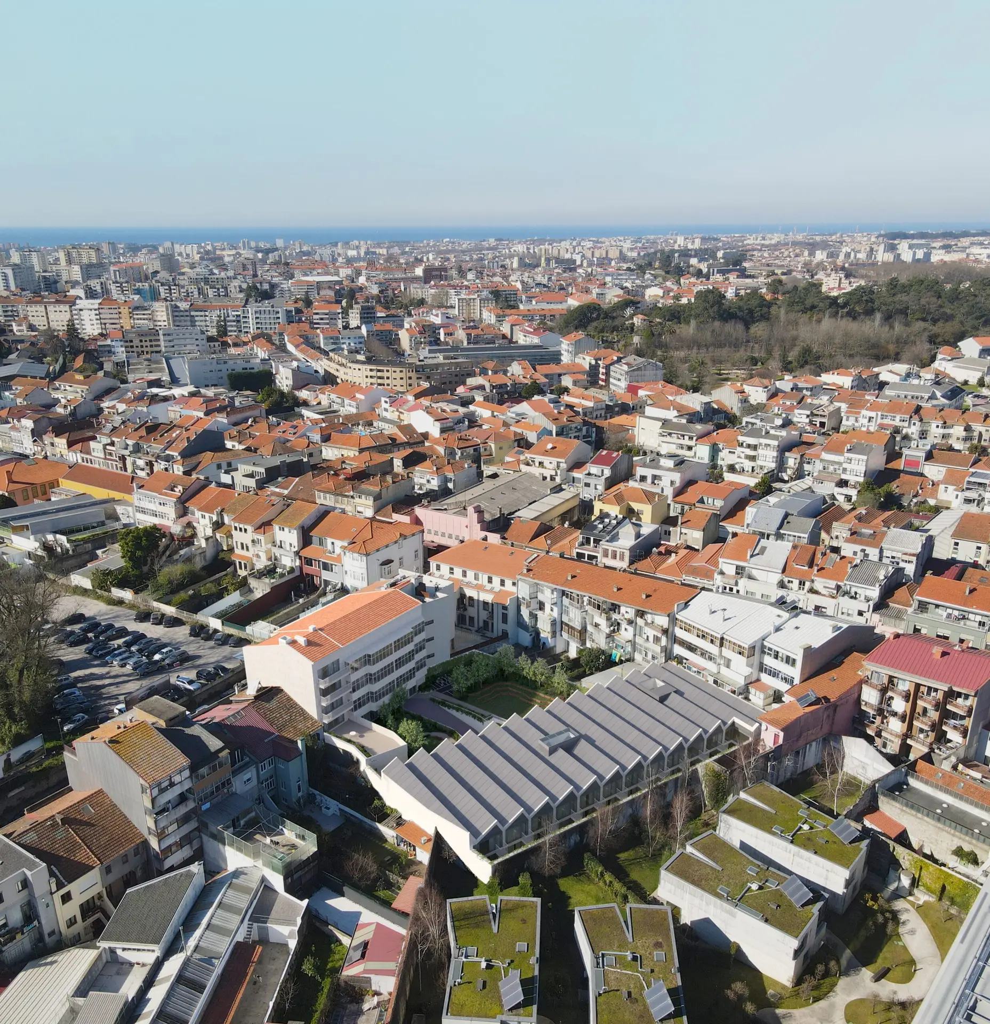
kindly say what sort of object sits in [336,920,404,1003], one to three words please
shed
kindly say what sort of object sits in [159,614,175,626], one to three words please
vehicle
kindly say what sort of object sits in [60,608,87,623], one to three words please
car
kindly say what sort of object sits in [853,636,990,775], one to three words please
building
